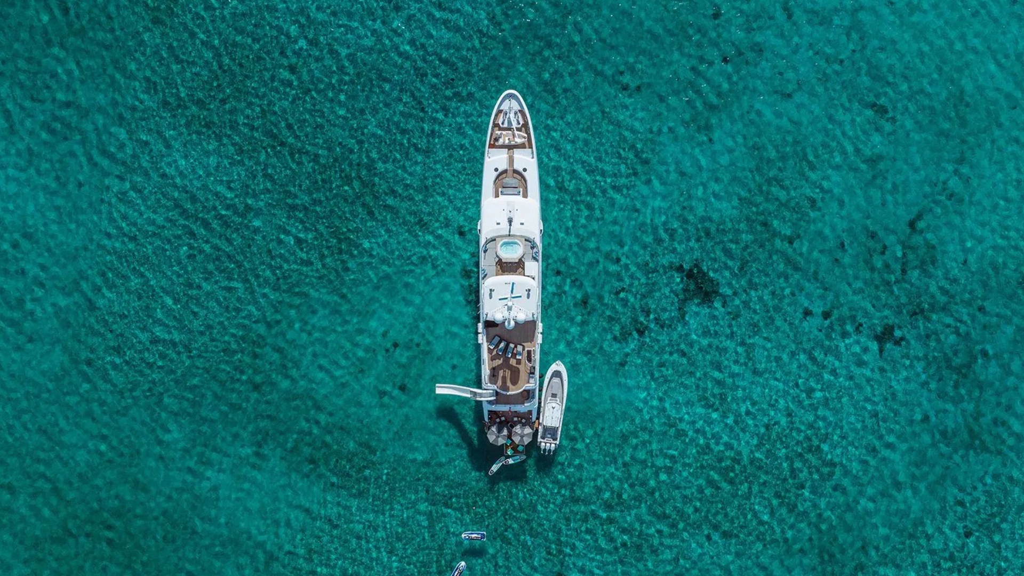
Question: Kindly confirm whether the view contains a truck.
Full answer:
No, there appears to be no truck in this shot.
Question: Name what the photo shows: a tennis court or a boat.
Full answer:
It is a boat that can be seen here.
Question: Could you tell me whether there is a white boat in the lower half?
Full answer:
Yes, a white boat shows up in the lower half.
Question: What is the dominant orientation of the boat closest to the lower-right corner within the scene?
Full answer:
The boat closest to the lower-right corner is oriented from top to bottom.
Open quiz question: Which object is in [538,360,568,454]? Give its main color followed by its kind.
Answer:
white boat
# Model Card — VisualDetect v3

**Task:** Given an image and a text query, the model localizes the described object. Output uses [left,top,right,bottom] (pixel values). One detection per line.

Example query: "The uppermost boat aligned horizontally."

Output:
[494,131,527,145]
